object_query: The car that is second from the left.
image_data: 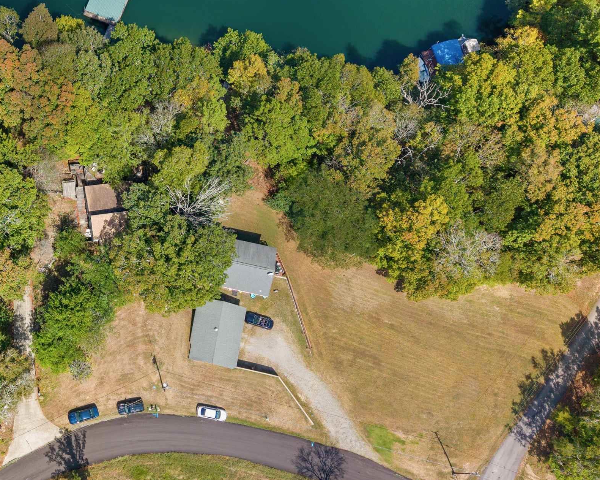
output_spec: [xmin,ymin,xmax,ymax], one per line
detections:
[118,401,146,416]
